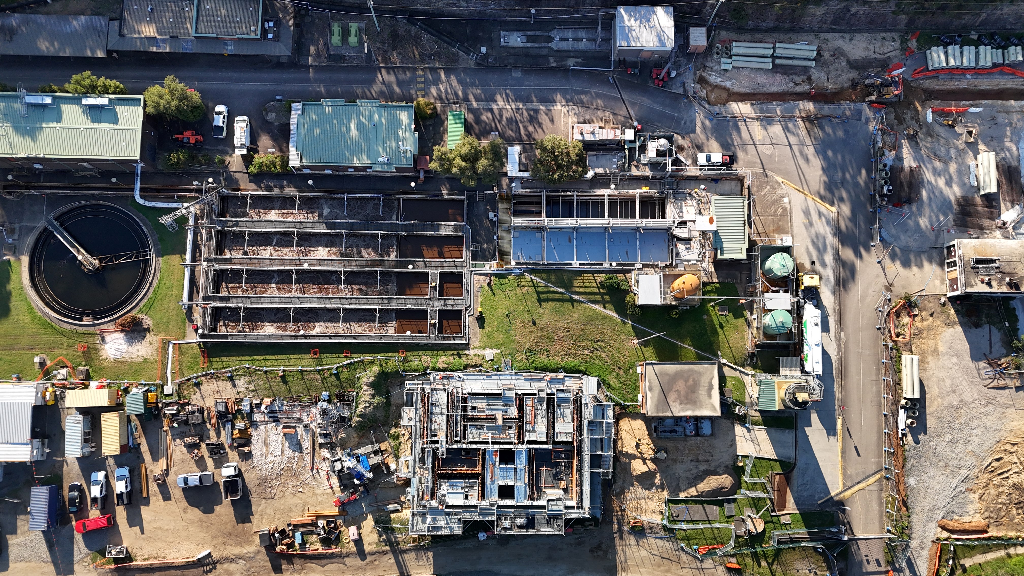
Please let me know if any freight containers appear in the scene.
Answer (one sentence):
Yes, looking at the shot, I can spot a freight container.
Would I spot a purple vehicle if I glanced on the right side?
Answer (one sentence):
No, on the right side there is no purple vehicle.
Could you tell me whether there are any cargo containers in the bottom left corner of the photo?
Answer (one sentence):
Yes, a cargo container appears in the bottom left corner of the photo.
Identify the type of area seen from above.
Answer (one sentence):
This looks like an industrial area.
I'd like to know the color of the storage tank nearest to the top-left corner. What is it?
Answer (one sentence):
The storage tank nearest to the top-left corner is black.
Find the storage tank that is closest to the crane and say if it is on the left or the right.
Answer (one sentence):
The storage tank that is closest to the crane sits on the left side.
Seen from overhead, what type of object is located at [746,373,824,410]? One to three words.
silo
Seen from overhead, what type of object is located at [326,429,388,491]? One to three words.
crane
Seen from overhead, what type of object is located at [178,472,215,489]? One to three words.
vehicle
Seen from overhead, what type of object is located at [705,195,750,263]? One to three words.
building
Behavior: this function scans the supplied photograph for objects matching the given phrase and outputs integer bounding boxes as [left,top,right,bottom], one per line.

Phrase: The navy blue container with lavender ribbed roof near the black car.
[29,484,59,531]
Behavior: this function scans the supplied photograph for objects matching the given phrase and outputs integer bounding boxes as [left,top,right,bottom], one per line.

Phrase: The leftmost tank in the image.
[26,200,162,332]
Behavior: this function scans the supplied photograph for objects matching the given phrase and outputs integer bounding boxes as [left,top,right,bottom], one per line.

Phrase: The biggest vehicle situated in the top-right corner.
[849,72,903,102]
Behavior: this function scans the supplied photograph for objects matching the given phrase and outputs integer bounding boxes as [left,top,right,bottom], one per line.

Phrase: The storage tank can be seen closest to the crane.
[199,188,492,343]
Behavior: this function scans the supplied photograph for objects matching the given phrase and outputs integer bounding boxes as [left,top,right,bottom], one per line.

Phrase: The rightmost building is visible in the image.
[933,239,1024,299]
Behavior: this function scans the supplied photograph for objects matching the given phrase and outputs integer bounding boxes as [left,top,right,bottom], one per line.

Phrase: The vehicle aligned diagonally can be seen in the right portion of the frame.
[635,438,666,461]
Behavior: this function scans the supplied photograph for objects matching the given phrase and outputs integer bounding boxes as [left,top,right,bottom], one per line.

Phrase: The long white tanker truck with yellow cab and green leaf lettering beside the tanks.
[797,267,822,374]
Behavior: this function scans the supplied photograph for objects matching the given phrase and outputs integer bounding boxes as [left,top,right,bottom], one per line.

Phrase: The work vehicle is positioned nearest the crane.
[332,486,365,510]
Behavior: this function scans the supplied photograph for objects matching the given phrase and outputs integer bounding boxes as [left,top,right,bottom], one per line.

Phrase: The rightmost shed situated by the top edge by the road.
[685,27,706,54]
